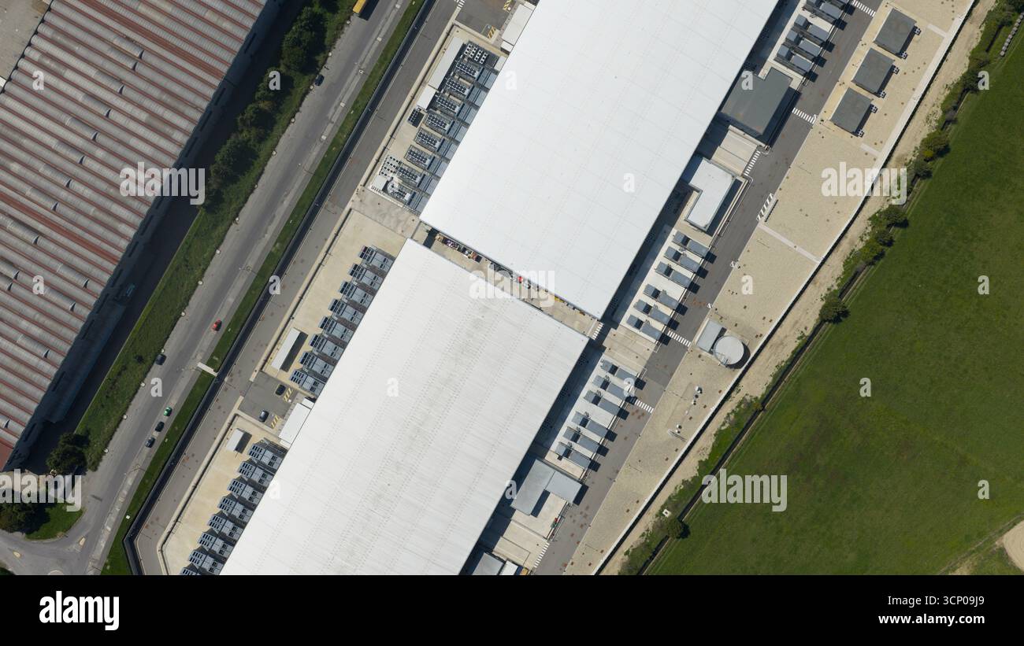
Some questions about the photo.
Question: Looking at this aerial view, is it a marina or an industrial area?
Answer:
industrial area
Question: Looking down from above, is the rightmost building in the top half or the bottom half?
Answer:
top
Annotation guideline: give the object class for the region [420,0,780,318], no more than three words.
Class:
warehouse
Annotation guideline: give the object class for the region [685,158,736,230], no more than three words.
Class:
building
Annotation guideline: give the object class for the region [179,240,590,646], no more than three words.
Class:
warehouse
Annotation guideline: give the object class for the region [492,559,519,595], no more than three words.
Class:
shed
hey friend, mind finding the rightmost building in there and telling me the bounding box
[718,68,792,136]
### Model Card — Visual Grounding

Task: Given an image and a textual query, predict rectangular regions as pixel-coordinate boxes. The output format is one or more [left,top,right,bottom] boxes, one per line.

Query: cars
[155,421,164,432]
[213,320,222,331]
[163,406,172,417]
[156,353,165,365]
[259,410,269,422]
[146,437,155,448]
[276,384,286,395]
[315,75,324,86]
